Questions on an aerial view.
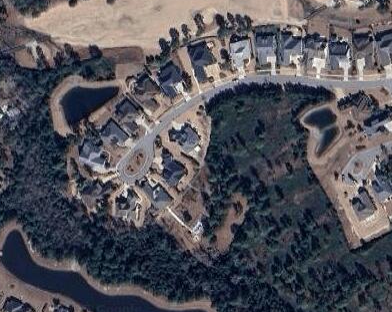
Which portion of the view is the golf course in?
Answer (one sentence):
The golf course sits in the top section of the image.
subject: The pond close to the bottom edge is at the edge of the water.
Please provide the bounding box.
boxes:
[0,230,205,312]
